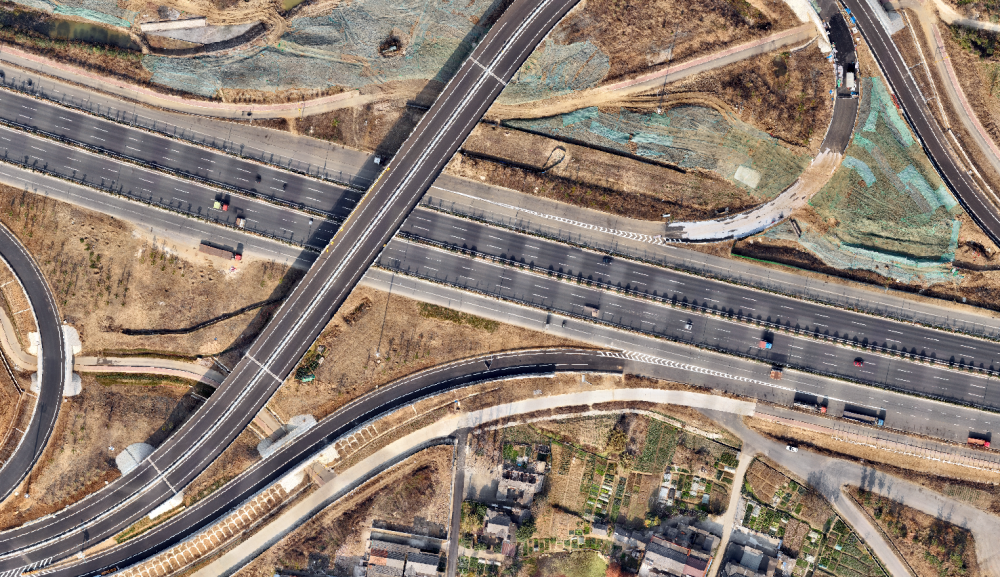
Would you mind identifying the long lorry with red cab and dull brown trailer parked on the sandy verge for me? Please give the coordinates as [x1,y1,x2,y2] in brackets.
[198,243,242,260]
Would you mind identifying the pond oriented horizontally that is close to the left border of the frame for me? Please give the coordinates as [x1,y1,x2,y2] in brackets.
[18,18,141,50]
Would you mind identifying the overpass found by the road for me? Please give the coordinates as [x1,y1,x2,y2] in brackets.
[0,0,581,577]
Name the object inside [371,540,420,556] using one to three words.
shed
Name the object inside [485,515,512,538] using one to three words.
house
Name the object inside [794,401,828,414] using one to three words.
vehicle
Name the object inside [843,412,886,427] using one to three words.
vehicle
